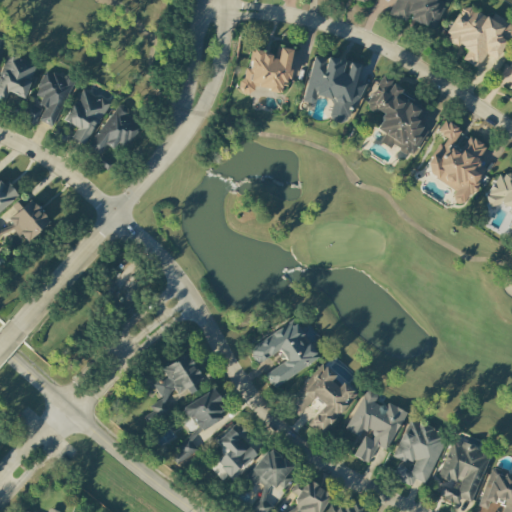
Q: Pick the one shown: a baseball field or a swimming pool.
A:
swimming pool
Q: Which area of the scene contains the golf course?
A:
right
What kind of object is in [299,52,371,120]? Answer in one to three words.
house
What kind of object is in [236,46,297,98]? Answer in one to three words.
house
